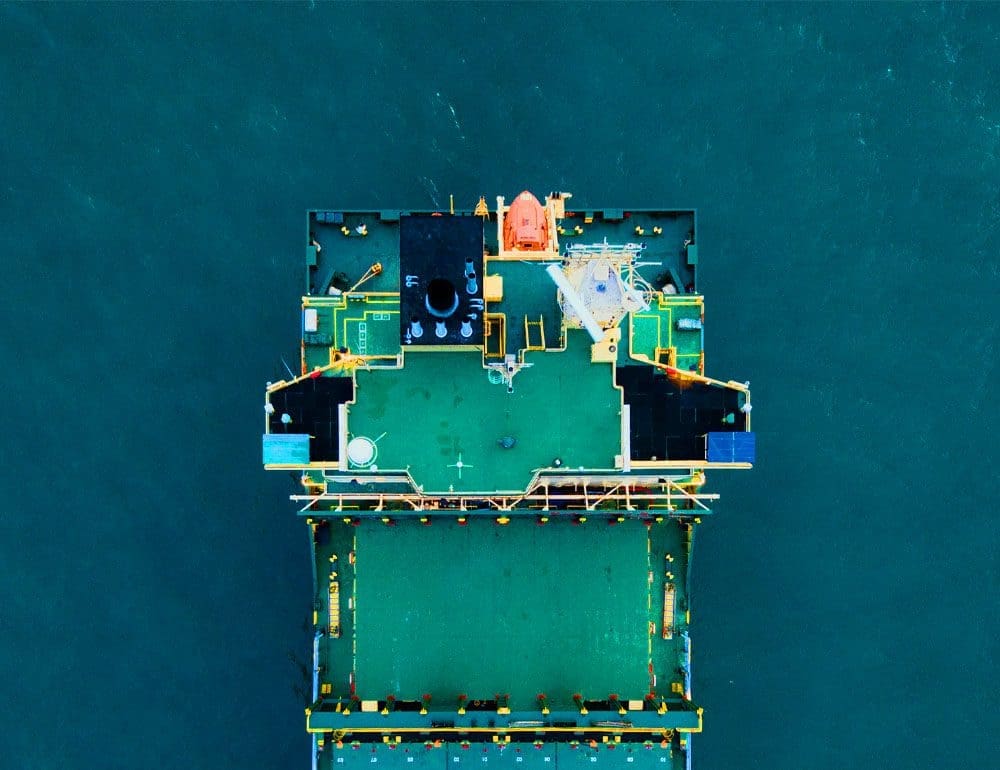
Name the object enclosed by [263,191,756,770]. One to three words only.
ship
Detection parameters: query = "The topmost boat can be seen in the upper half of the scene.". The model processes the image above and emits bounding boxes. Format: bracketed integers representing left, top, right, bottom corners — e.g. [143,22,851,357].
[505,190,548,254]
